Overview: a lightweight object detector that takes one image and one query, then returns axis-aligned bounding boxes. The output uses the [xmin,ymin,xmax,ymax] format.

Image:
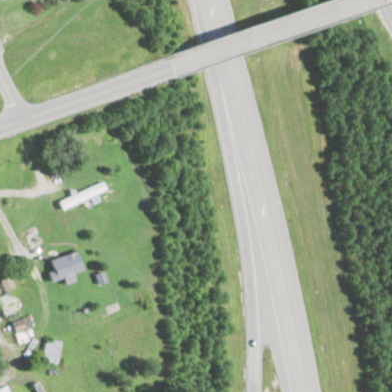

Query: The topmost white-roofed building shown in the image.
[60,180,108,210]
